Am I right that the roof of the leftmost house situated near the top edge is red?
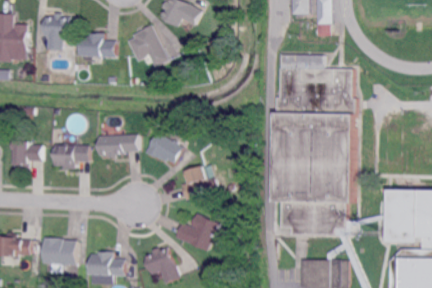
No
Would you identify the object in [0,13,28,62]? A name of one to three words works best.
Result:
house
